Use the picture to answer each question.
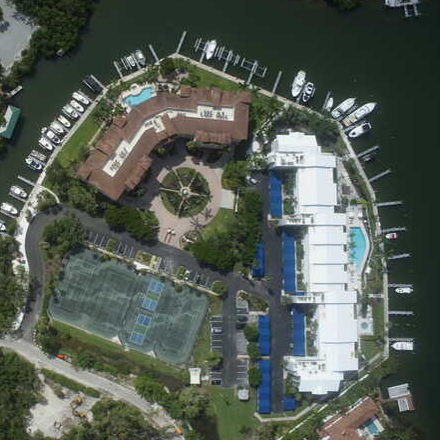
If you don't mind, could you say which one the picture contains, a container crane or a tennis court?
tennis court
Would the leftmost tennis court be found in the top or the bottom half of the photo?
bottom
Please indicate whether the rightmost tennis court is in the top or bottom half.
bottom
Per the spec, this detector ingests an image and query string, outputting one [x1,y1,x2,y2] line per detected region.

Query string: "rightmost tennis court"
[153,293,198,357]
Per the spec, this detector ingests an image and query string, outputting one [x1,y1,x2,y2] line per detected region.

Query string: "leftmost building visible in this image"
[0,106,21,138]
